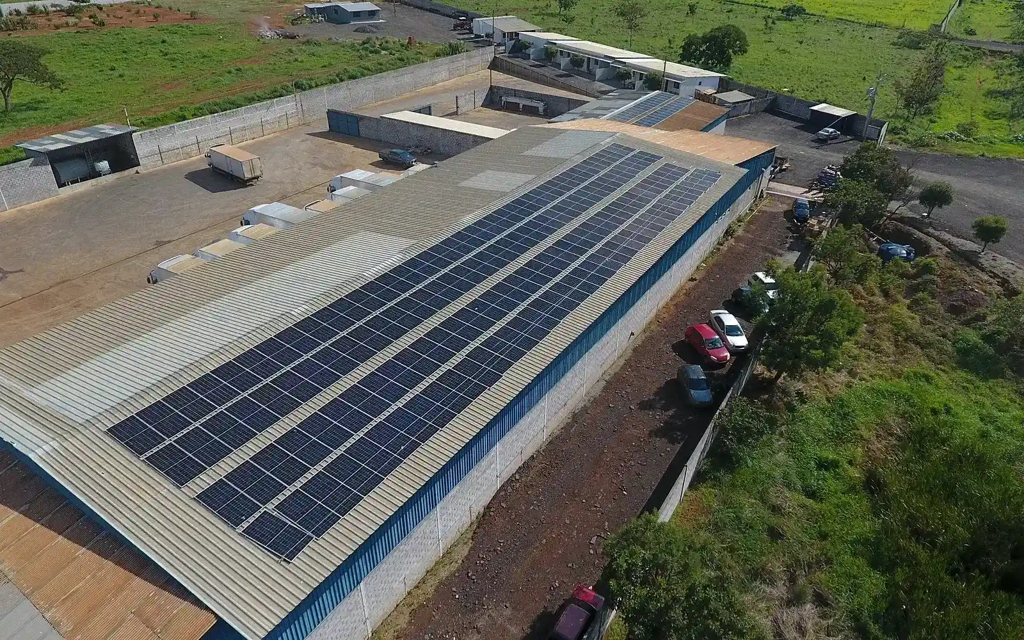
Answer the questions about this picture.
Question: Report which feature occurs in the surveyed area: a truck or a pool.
truck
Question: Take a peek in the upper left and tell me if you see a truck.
Yes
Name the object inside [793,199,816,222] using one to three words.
car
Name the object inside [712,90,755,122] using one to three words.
shed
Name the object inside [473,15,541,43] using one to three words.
building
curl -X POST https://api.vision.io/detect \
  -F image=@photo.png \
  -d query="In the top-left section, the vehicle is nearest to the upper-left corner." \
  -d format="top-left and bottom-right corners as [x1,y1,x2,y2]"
[198,145,260,189]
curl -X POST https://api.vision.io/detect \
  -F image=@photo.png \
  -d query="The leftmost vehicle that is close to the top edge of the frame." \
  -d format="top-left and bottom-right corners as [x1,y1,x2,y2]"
[454,17,470,31]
